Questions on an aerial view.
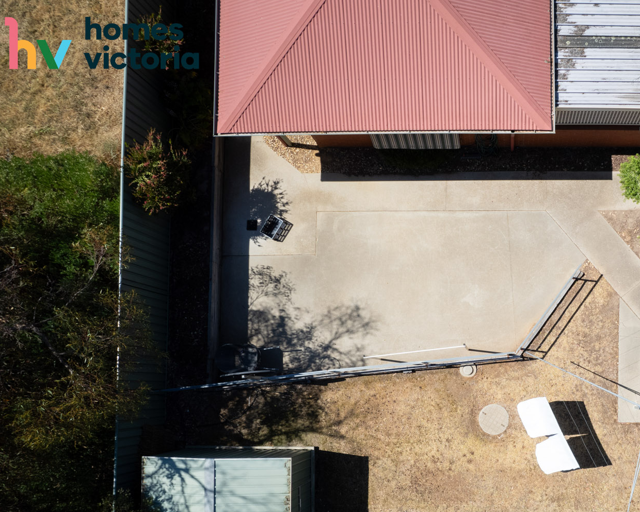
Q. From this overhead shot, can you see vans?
No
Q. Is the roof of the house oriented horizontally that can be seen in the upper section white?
No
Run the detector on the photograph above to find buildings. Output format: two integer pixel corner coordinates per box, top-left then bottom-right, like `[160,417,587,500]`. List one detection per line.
[214,0,565,151]
[139,447,317,512]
